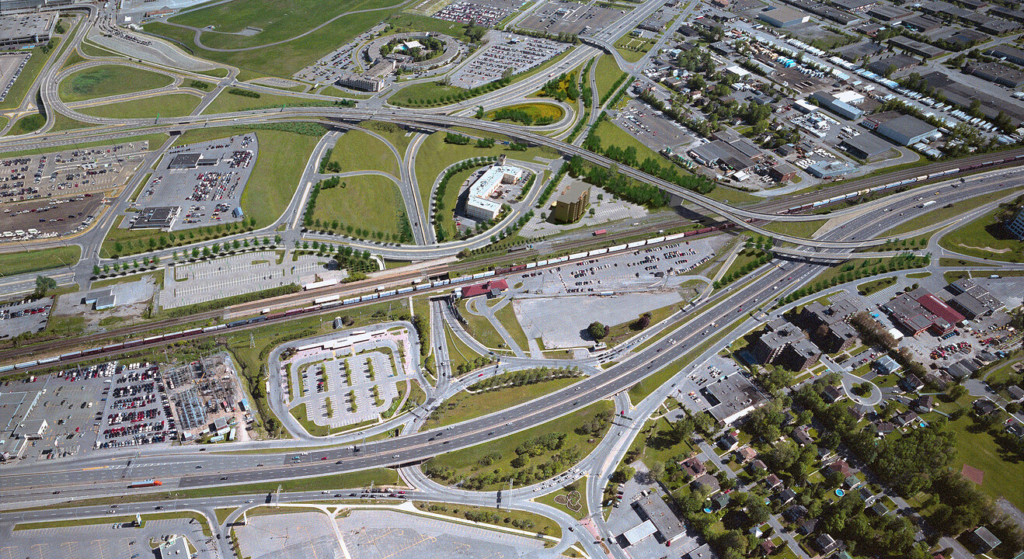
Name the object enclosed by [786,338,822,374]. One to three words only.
building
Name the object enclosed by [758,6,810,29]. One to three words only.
building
